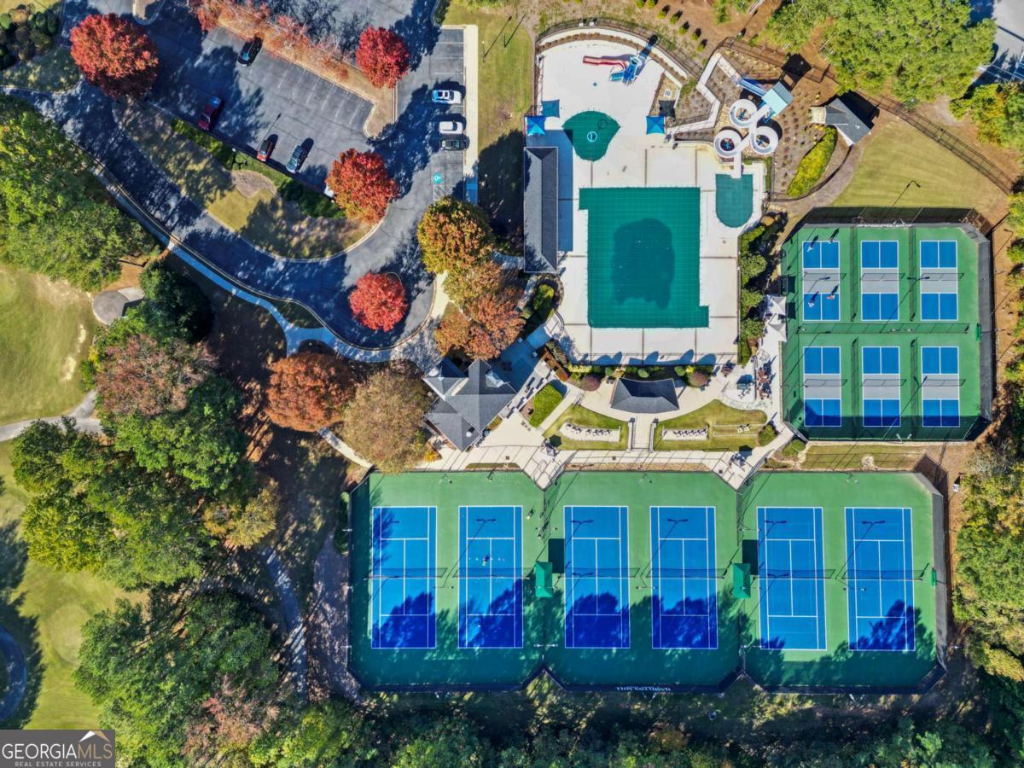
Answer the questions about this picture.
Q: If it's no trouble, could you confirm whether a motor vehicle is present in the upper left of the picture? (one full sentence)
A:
Yes, a motor vehicle can be seen in the upper left of the picture.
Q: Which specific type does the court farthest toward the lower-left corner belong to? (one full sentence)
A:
I'd identify the court farthest toward the lower-left corner as a tennis court.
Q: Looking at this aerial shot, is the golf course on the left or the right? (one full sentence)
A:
It is on the left.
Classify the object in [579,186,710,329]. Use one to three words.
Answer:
swimming pool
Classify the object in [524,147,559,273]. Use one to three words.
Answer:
building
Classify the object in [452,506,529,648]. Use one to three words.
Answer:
tennis court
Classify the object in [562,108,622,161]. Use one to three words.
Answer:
swimming pool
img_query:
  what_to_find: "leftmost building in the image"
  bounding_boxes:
[423,355,517,450]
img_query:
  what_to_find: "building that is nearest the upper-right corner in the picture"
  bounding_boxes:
[809,98,870,148]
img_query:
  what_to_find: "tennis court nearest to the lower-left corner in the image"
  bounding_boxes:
[364,507,442,649]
